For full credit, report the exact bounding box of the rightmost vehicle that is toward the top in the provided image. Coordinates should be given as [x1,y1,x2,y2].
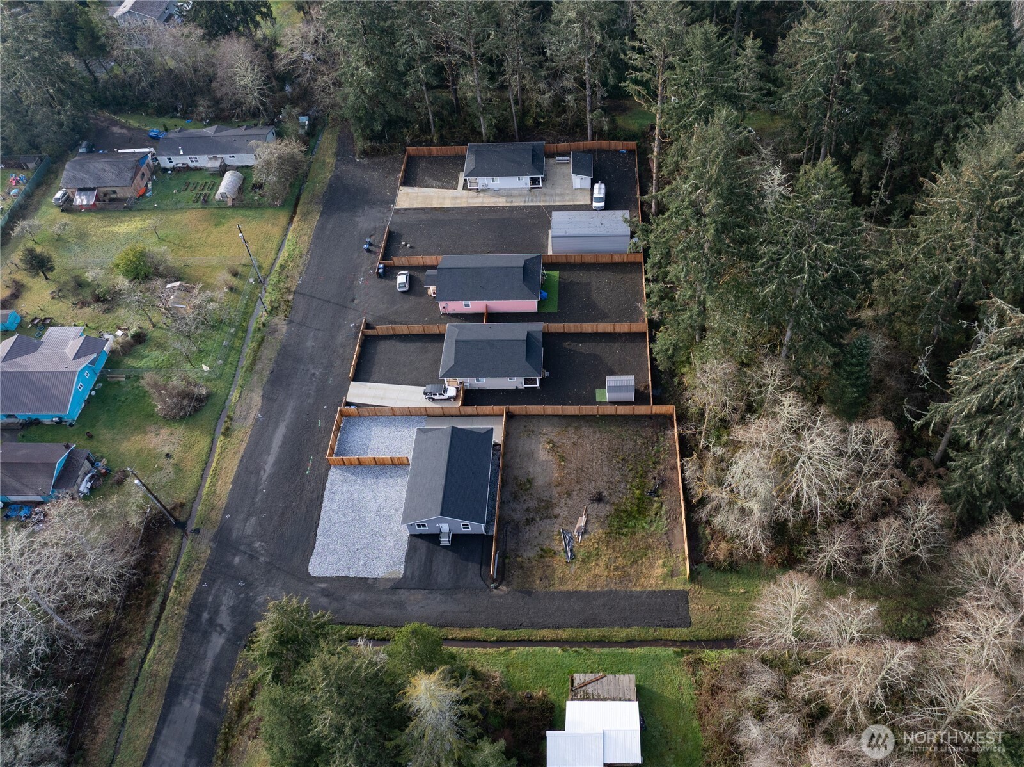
[592,176,606,208]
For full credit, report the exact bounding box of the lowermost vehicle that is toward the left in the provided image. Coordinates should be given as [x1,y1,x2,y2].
[395,271,408,292]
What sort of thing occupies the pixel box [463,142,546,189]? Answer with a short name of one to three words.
house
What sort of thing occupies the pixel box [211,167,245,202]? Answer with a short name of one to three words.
greenhouse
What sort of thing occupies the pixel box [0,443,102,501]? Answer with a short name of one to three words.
house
